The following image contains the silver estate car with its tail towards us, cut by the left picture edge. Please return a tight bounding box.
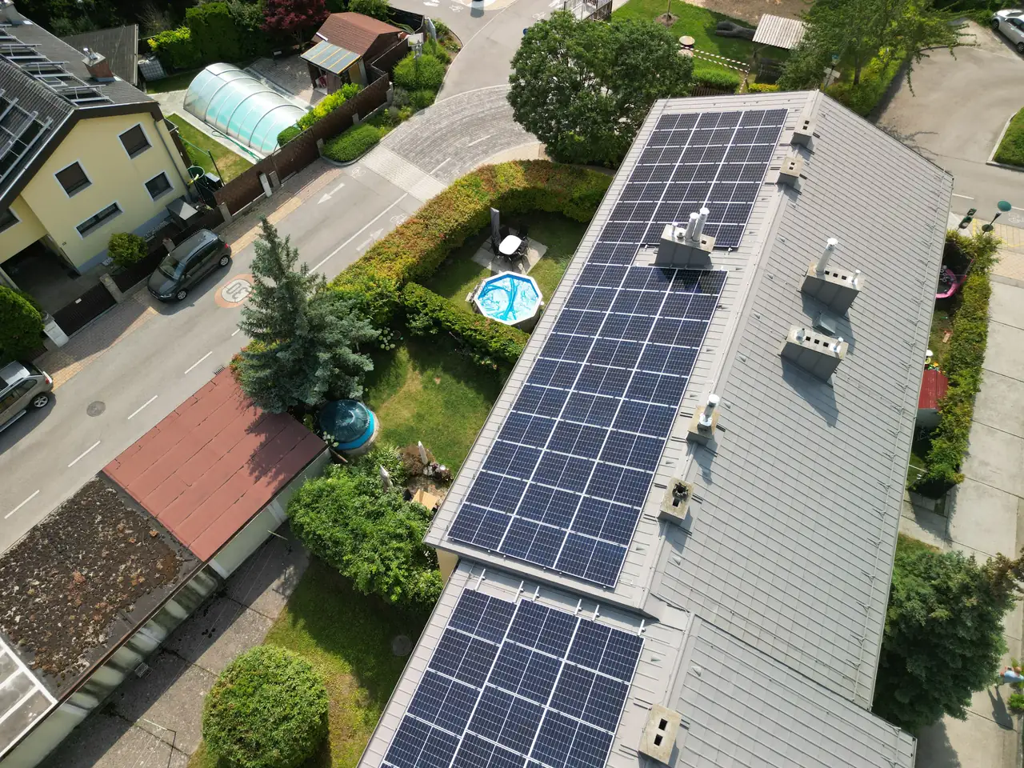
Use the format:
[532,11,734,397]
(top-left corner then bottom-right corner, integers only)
[0,358,52,429]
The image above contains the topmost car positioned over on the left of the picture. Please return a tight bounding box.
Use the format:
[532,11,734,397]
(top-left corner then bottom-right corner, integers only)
[142,231,233,305]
